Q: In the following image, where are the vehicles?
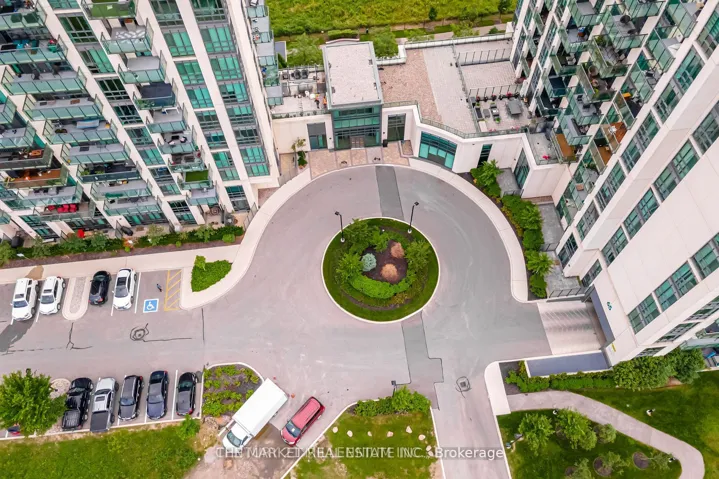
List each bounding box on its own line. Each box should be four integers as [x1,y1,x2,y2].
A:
[112,270,137,313]
[143,369,169,421]
[88,375,121,435]
[222,376,284,454]
[176,371,199,418]
[91,270,113,309]
[60,376,93,436]
[116,374,144,424]
[4,416,29,437]
[35,277,63,319]
[275,391,320,441]
[10,280,39,323]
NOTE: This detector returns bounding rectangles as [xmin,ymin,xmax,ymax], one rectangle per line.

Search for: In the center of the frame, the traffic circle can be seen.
[322,218,440,324]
